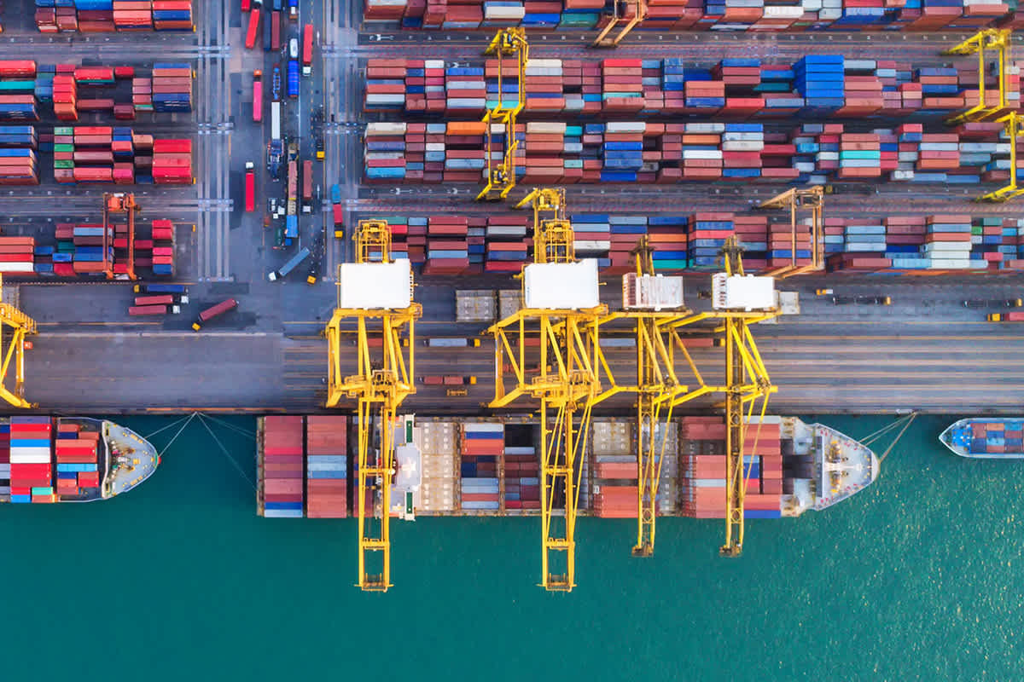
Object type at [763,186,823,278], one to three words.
crane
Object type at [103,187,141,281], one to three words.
crane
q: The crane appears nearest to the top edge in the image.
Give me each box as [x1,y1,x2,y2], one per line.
[592,0,645,44]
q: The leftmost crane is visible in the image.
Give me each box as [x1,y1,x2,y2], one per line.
[0,256,41,409]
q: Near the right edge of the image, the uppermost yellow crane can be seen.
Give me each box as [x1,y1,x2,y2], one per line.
[941,26,1011,125]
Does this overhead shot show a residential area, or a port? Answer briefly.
port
